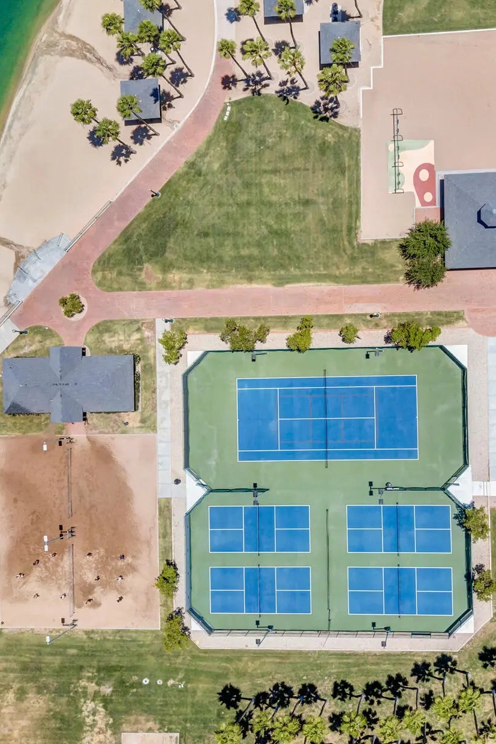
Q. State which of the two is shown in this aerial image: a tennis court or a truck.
tennis court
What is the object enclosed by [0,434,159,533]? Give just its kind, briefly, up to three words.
sports court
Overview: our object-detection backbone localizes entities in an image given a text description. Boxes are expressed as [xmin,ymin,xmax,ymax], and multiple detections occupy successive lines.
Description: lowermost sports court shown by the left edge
[0,533,160,631]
